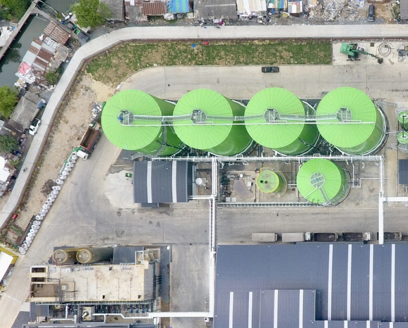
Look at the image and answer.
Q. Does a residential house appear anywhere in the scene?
Yes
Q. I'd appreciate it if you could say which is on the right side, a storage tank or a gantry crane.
storage tank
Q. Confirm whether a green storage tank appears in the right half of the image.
Yes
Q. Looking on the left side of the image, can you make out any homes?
Yes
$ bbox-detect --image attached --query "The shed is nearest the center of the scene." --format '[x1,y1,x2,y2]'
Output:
[131,160,194,208]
